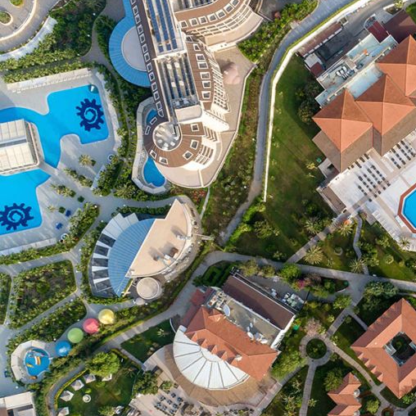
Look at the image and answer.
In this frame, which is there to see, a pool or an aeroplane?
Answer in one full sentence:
This aerial view contains a pool.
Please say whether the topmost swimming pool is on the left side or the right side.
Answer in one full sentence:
It is on the left.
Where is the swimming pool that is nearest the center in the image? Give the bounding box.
[142,155,166,188]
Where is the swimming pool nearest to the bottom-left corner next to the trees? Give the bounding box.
[23,346,52,376]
